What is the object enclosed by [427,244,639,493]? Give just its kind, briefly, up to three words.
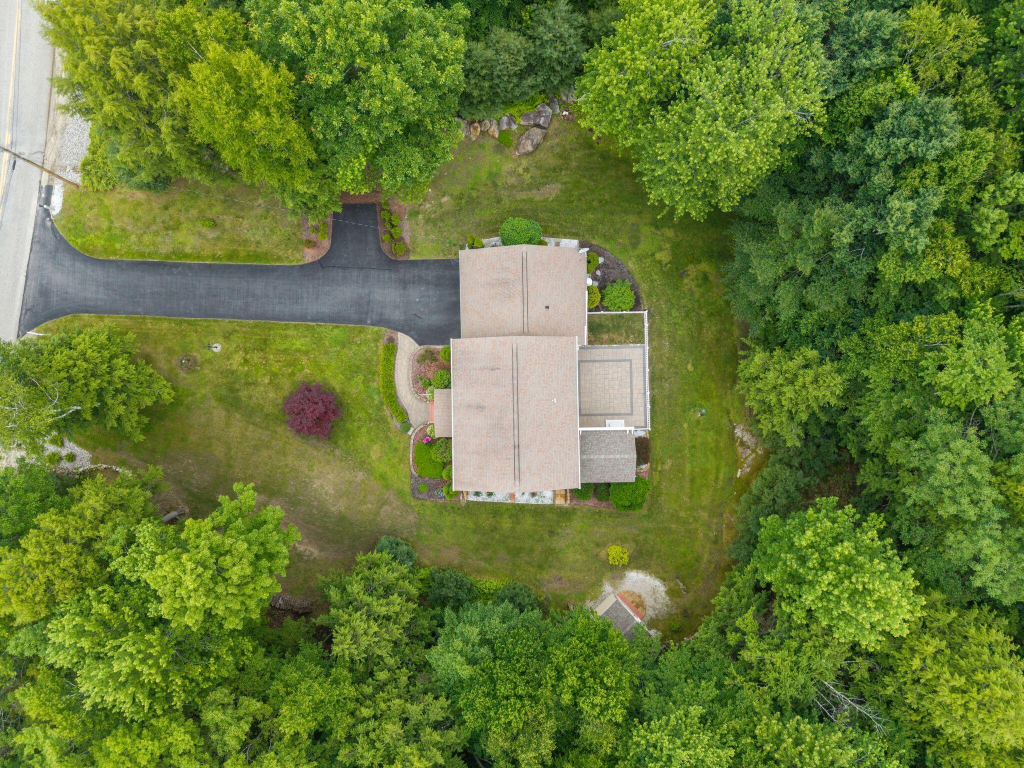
house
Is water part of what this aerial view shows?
No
